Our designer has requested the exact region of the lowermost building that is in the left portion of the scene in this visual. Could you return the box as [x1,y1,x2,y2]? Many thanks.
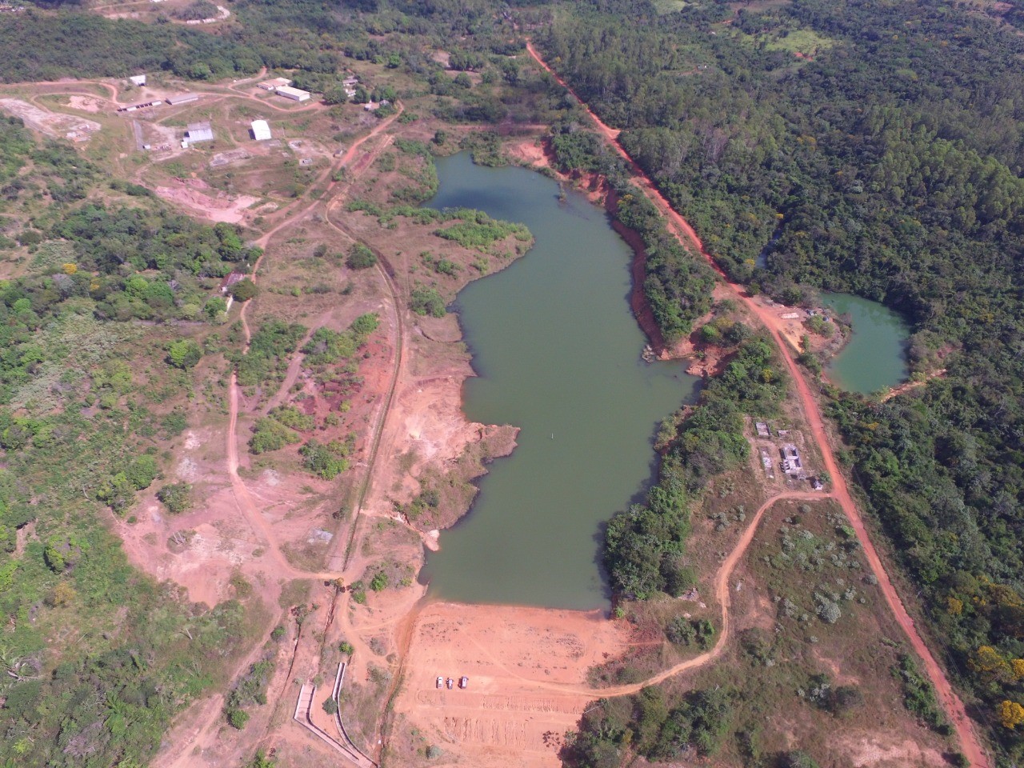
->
[219,272,246,297]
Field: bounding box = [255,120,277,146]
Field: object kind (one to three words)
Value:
building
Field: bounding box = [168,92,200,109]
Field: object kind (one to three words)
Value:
shed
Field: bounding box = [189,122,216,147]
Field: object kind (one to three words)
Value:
shed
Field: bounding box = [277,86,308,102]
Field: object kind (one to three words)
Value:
hangar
